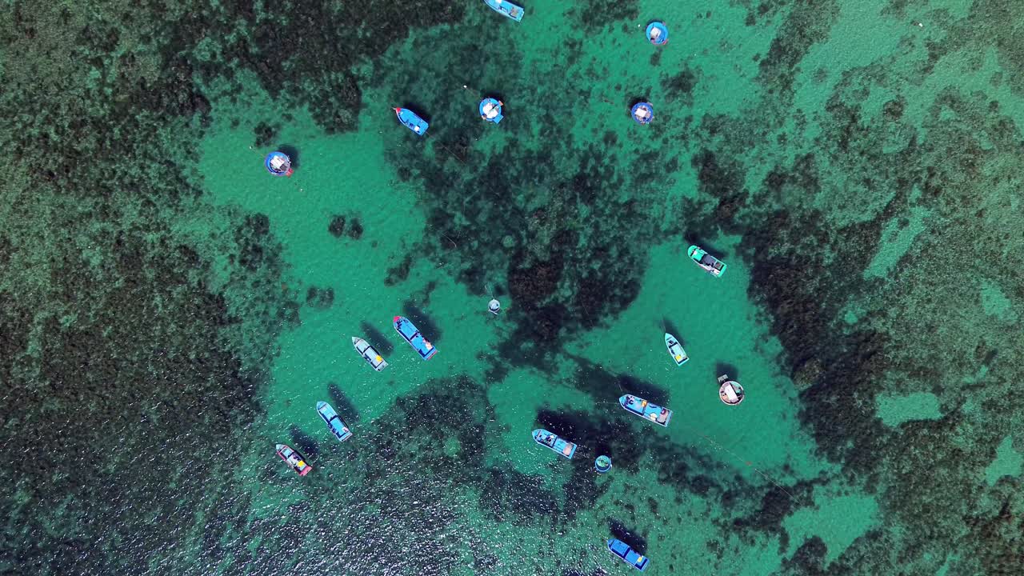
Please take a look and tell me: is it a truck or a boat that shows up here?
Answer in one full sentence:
I can see a boat in this picture.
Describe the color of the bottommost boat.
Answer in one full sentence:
The bottommost boat looks blue in the image.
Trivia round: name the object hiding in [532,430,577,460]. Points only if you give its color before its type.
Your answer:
blue boat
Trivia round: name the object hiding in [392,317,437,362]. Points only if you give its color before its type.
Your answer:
blue boat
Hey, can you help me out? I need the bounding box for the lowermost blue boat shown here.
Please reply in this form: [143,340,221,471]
[607,537,650,572]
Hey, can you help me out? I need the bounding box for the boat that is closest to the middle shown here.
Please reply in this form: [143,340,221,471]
[488,299,500,312]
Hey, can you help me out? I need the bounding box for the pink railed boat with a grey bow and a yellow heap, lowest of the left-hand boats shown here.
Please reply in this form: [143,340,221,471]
[275,444,312,478]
